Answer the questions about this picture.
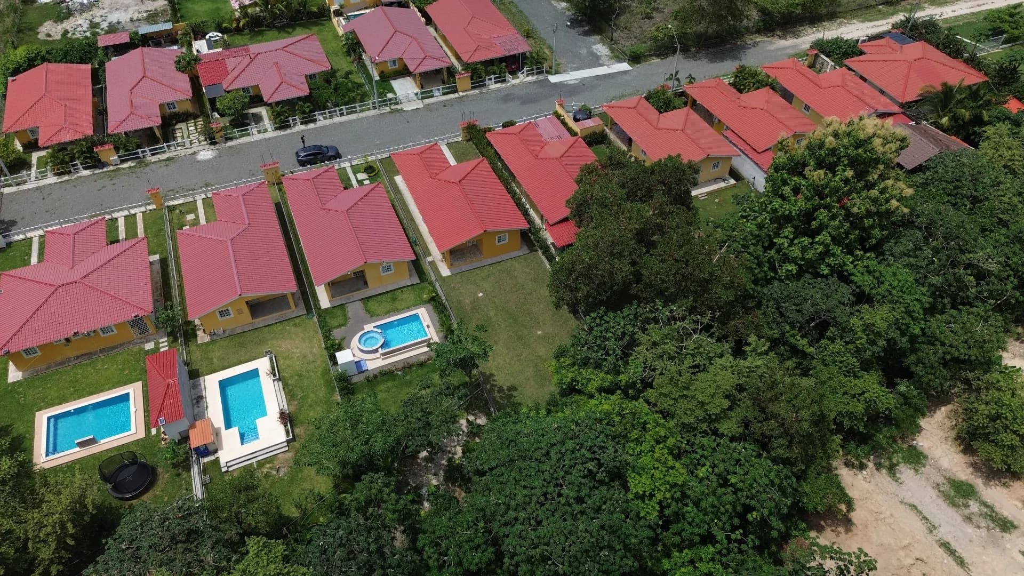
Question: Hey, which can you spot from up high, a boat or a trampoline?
trampoline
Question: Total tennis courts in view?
0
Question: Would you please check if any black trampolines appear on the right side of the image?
No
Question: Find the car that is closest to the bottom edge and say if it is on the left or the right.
left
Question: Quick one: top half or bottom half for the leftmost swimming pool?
bottom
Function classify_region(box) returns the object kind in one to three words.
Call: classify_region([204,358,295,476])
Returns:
swimming pool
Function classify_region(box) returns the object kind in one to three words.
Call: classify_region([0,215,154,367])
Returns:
house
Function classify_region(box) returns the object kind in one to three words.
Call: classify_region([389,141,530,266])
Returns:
house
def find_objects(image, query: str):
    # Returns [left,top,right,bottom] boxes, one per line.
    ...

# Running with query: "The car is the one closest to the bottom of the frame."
[295,140,340,163]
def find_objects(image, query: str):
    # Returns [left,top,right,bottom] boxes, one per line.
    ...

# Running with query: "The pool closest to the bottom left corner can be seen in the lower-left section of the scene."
[32,381,145,473]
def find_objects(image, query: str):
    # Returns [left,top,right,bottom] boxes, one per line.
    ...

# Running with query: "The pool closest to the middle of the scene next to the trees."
[349,309,443,373]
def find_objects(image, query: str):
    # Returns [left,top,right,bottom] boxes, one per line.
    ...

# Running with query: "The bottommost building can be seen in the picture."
[187,415,217,462]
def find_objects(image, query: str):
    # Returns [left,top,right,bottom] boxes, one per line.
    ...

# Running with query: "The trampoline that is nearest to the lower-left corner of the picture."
[92,452,158,508]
